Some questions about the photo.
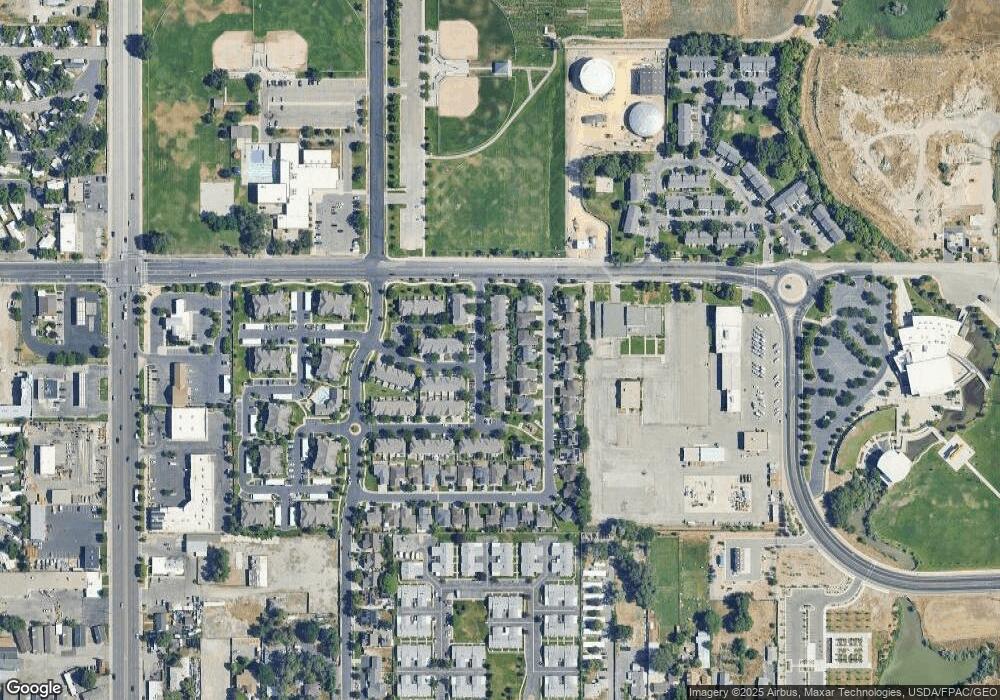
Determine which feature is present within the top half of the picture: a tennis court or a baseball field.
baseball field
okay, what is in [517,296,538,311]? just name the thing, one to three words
house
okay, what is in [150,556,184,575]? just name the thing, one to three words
building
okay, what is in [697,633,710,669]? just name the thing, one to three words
shed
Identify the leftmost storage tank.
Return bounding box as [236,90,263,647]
[580,59,616,96]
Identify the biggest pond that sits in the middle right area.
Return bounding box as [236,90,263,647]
[940,330,992,431]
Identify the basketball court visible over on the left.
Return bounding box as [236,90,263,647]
[201,182,234,216]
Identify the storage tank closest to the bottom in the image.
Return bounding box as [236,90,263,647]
[629,103,664,139]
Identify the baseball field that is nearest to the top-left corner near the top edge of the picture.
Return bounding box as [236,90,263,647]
[212,31,256,72]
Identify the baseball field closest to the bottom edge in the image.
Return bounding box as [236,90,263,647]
[433,74,480,118]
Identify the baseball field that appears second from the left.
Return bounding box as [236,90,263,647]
[264,31,308,72]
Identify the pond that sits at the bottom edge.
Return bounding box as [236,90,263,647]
[876,597,978,700]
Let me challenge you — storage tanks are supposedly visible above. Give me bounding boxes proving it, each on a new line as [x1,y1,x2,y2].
[580,59,616,96]
[629,103,664,139]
